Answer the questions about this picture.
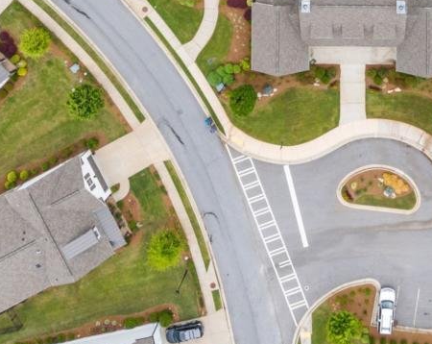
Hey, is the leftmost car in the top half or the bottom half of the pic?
bottom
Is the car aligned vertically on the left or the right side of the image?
right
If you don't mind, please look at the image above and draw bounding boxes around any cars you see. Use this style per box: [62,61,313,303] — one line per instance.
[165,322,206,344]
[377,291,397,335]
